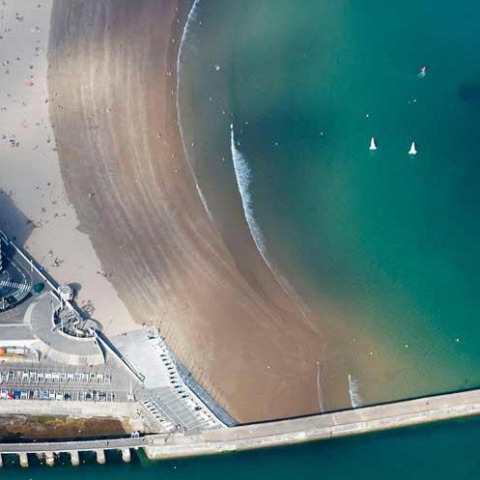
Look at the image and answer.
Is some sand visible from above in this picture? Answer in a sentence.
Yes, sand shows up in the scene.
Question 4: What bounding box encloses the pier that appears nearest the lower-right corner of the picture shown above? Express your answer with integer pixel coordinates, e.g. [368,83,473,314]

[143,388,480,460]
